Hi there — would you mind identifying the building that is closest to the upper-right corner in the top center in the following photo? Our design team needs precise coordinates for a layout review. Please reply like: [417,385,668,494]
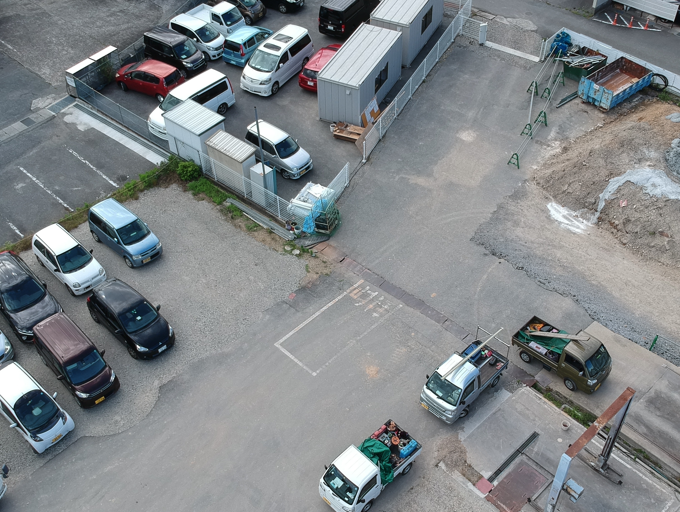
[370,0,444,67]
